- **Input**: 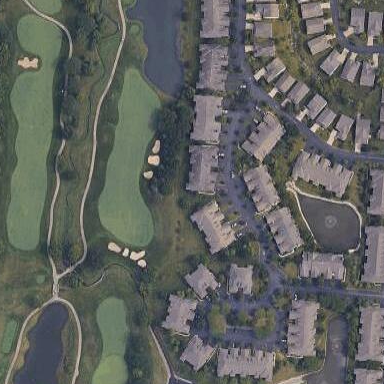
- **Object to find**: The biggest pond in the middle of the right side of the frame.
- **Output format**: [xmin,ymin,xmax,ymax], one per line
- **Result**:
[298,192,360,252]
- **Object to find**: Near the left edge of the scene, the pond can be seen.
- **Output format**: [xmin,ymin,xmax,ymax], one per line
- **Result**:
[14,303,68,384]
